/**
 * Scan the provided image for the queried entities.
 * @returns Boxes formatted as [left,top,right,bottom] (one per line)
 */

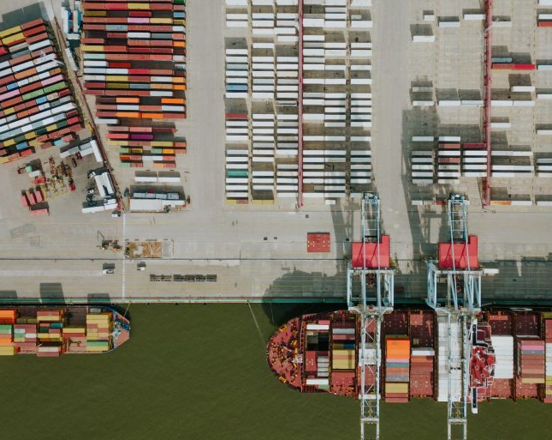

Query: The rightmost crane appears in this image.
[416,194,499,440]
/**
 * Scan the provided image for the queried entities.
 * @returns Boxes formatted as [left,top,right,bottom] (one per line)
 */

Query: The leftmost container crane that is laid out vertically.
[338,193,397,440]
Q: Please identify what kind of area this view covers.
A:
port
